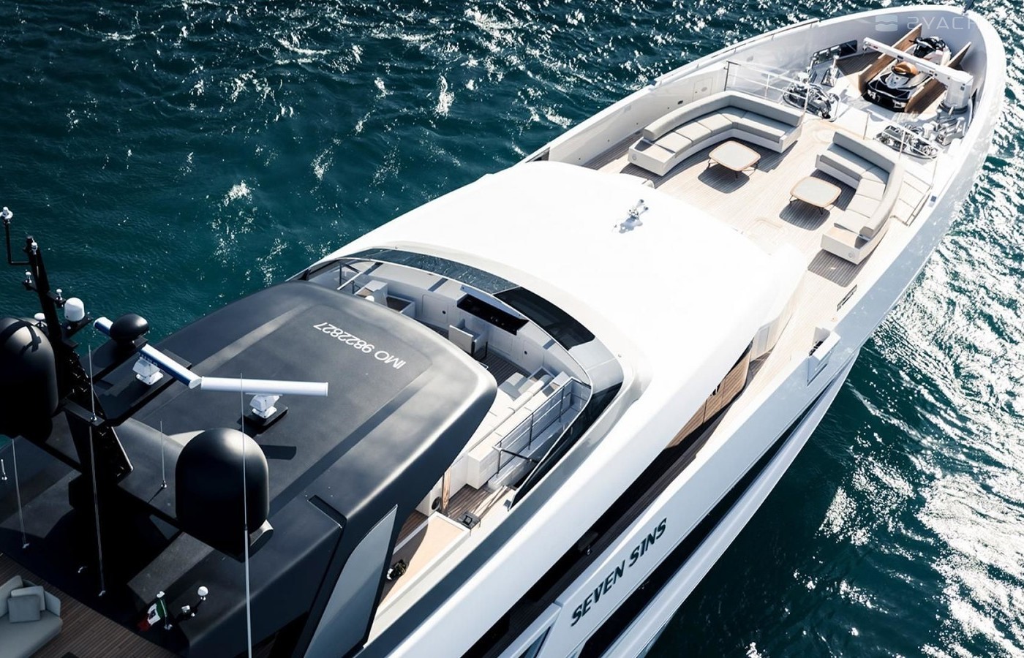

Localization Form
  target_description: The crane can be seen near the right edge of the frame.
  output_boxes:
[863,37,977,126]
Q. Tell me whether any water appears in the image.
Yes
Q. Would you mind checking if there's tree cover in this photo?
No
